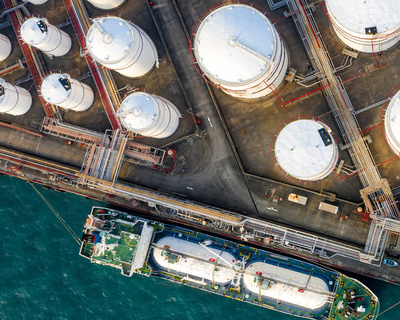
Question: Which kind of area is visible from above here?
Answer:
industrial area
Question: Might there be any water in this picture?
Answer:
Yes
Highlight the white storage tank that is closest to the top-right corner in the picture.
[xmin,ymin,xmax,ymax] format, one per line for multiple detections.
[321,0,400,58]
